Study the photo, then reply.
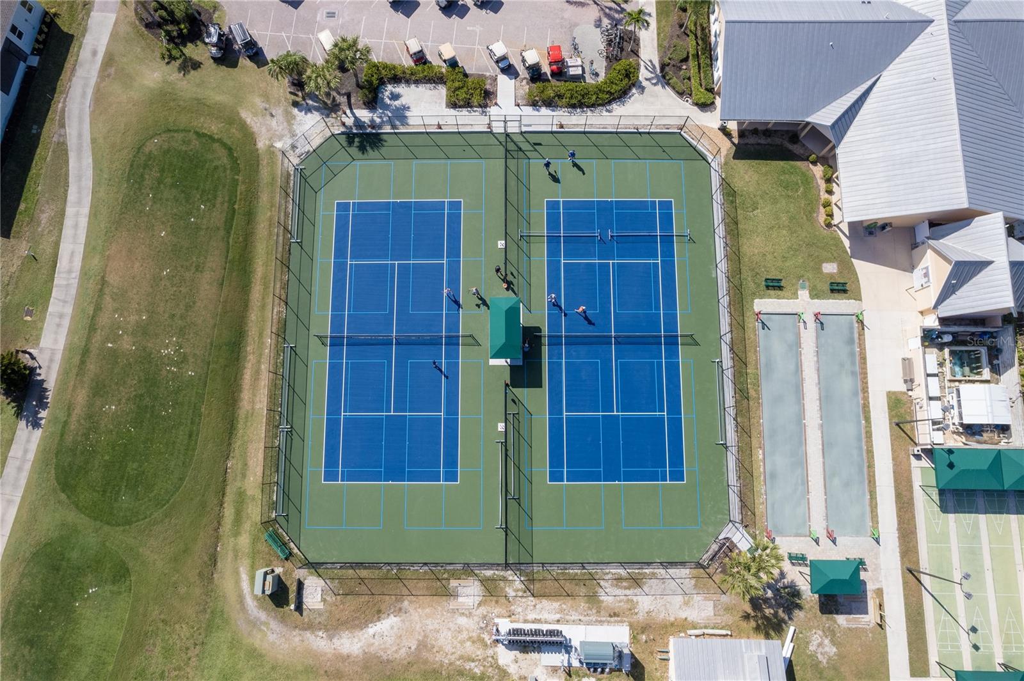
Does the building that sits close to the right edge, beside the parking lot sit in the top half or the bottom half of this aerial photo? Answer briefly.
top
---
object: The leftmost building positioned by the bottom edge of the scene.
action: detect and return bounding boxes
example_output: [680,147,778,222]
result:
[571,641,617,676]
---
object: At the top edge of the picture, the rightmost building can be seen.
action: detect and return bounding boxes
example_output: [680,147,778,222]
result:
[709,0,1024,231]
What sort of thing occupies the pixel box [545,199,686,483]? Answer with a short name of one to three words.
tennis court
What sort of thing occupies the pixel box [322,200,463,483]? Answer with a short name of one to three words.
tennis court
